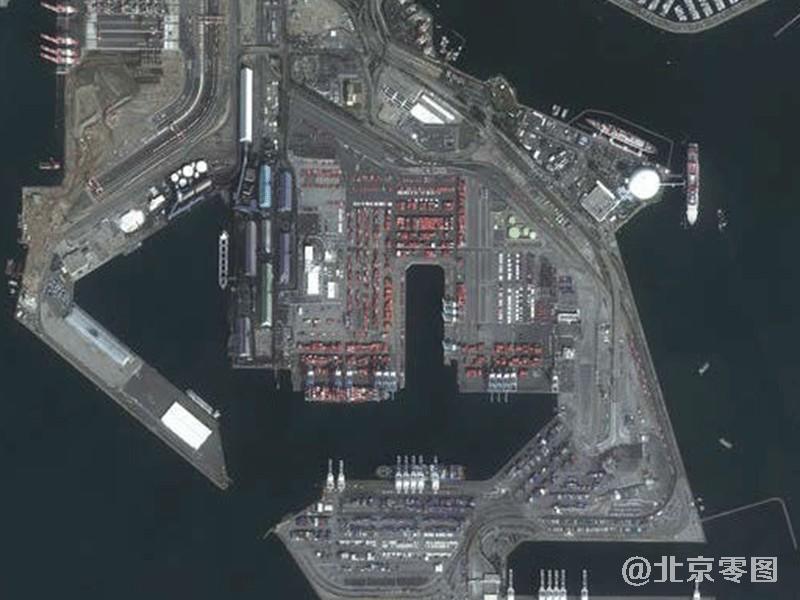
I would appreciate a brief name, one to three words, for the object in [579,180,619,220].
building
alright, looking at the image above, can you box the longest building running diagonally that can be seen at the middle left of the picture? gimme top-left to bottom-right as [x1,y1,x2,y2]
[66,308,131,364]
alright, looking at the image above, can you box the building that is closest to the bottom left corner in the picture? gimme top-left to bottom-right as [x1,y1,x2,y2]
[163,402,212,451]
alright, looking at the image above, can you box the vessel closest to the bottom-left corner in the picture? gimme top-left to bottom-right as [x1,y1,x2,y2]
[186,390,217,416]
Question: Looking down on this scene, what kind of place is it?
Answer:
port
